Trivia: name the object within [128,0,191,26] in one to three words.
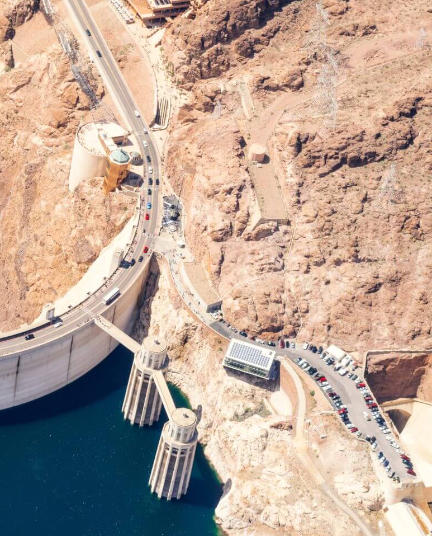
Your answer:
building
